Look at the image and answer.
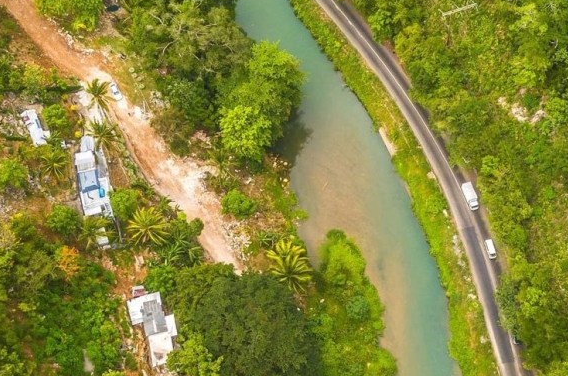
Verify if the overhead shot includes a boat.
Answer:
No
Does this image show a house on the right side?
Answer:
No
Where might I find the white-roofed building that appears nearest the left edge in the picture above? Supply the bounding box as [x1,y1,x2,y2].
[21,110,53,150]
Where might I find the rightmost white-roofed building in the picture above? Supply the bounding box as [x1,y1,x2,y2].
[127,283,179,367]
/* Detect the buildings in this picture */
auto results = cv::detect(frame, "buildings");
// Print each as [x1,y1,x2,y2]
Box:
[127,283,179,367]
[21,110,53,150]
[76,136,116,218]
[97,228,111,247]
